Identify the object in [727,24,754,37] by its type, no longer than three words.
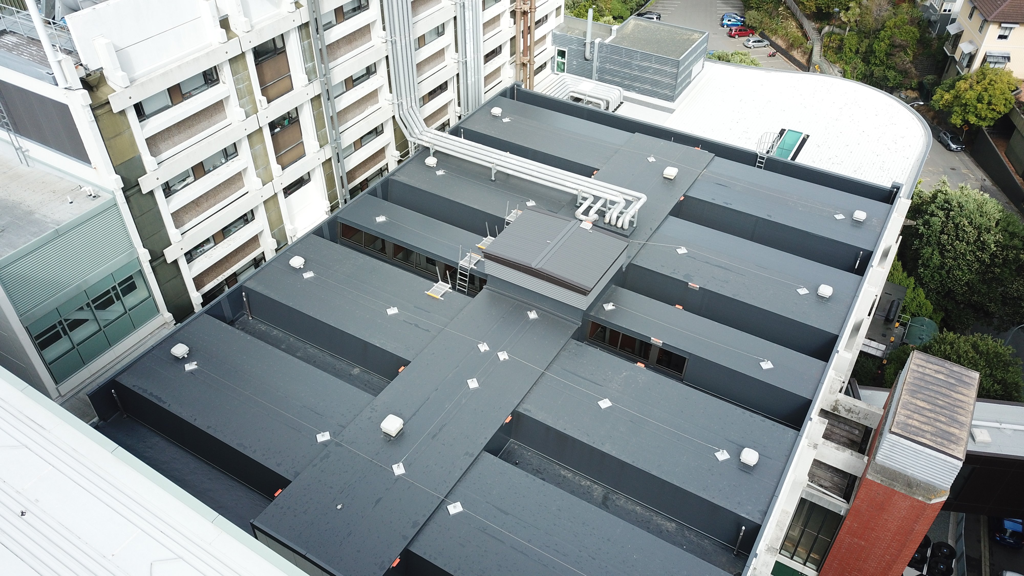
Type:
vehicle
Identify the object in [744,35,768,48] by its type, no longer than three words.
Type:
vehicle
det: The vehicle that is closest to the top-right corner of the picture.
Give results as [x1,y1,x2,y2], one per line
[934,133,961,155]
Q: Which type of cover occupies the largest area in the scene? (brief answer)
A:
buildings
